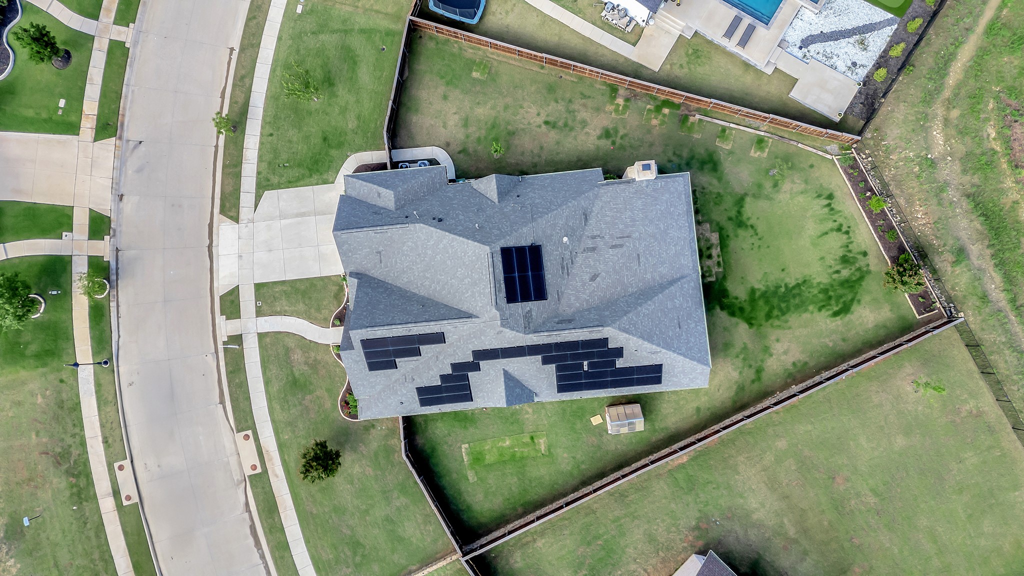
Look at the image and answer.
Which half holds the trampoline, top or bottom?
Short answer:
top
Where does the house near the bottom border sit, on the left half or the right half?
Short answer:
right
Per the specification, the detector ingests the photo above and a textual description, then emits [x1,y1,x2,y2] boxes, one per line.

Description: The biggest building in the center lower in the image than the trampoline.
[333,160,712,421]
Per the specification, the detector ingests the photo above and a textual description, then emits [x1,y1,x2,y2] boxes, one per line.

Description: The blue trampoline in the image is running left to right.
[428,0,486,24]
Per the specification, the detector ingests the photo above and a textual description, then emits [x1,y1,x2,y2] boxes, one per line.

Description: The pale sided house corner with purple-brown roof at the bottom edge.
[663,543,738,576]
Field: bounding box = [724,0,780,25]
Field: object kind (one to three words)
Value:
swimming pool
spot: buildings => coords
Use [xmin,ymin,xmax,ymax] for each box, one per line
[605,401,644,434]
[663,543,738,576]
[610,0,666,24]
[333,160,712,421]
